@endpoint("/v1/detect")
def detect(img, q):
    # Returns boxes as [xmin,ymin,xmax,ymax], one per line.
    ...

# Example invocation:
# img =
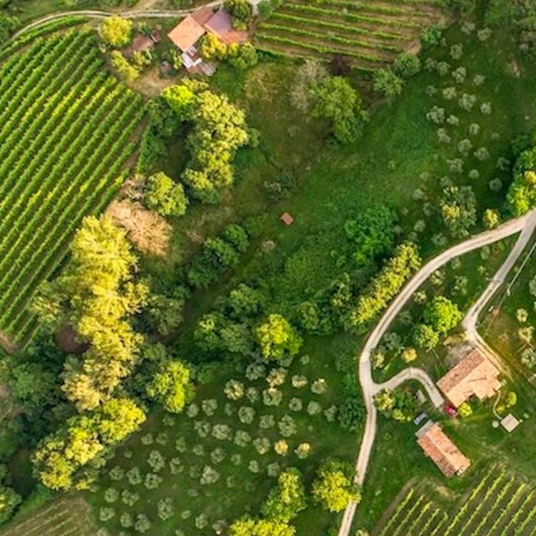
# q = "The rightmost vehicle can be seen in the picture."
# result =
[444,403,459,416]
